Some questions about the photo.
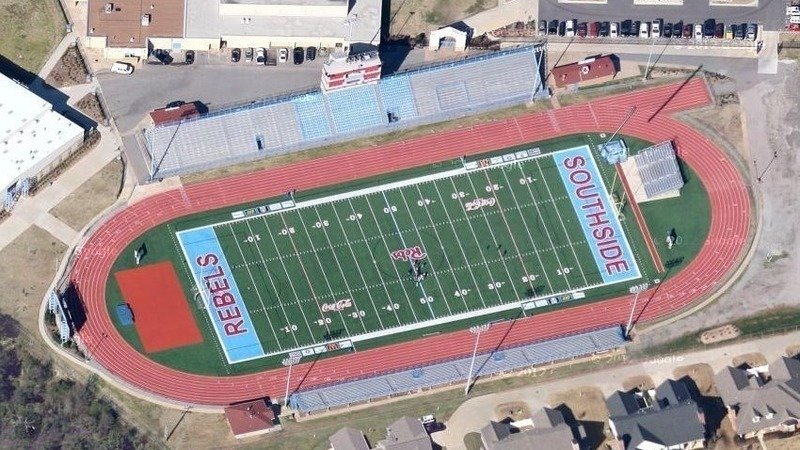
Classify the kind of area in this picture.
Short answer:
sports ground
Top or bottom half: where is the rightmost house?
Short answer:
bottom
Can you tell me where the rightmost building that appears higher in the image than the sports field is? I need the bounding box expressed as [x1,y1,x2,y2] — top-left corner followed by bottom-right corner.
[550,56,620,94]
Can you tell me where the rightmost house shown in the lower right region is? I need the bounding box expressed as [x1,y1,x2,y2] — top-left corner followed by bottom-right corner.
[712,355,800,441]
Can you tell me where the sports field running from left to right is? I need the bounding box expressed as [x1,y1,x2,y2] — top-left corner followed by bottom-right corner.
[103,131,713,377]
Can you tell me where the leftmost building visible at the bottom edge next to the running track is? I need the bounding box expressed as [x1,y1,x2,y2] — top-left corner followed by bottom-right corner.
[224,398,280,441]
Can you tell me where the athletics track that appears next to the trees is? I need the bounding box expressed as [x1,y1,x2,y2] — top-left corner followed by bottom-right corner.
[62,78,754,405]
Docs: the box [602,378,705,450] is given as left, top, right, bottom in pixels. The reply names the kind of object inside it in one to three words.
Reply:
house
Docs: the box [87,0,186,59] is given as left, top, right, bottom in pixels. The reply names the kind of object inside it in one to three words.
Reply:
building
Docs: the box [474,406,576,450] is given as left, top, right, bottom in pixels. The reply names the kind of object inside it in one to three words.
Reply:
house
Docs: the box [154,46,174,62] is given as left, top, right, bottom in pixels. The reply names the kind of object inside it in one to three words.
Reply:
vehicle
